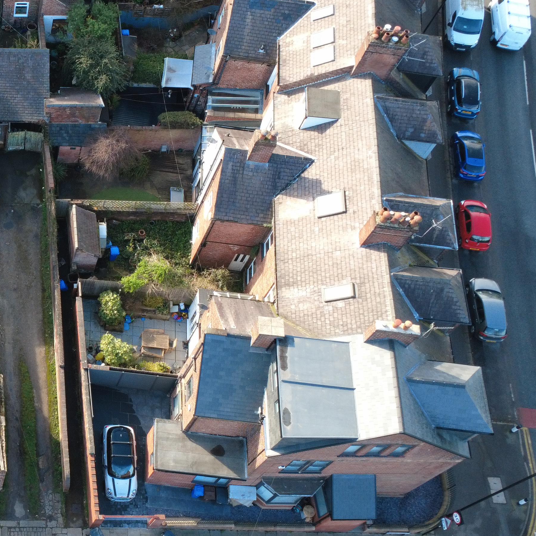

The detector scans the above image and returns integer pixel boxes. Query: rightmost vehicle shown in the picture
[490,2,536,51]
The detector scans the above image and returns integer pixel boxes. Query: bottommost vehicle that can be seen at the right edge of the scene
[466,279,510,349]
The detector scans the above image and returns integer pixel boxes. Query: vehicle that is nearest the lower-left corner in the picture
[102,426,142,502]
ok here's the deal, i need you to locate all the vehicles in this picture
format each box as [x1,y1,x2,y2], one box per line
[454,199,494,257]
[466,279,510,349]
[449,131,488,186]
[447,73,483,119]
[447,0,492,49]
[102,426,142,502]
[490,2,536,51]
